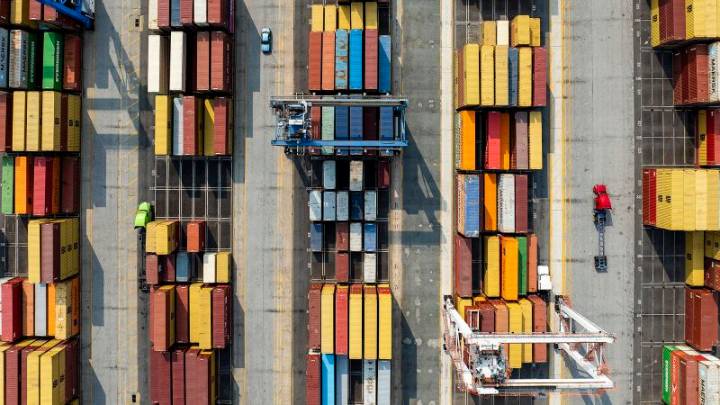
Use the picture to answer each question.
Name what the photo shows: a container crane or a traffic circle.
container crane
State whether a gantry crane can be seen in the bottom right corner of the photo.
Yes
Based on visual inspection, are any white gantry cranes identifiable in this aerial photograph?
Yes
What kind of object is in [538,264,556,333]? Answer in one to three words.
vehicle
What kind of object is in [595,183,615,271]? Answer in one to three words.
vehicle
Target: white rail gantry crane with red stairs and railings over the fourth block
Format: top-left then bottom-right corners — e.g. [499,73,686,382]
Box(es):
[438,290,620,398]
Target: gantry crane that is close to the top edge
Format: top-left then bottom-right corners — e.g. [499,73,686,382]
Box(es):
[41,0,94,31]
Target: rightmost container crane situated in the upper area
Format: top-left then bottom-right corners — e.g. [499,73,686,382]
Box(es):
[268,86,411,159]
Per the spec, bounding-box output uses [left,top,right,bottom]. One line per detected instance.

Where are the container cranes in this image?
[438,290,620,398]
[41,0,94,31]
[268,86,411,159]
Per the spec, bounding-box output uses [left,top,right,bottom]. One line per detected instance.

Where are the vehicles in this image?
[260,27,271,53]
[538,264,556,333]
[595,183,615,271]
[134,201,152,289]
